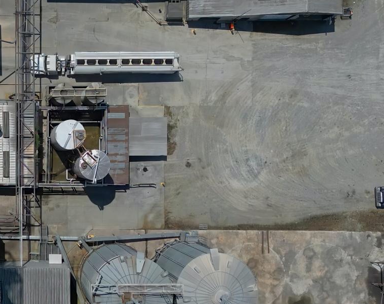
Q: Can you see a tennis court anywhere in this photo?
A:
No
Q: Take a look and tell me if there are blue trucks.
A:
No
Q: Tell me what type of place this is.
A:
industrial area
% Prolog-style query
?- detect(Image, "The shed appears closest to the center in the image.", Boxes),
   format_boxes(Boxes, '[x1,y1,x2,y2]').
[129,117,167,156]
